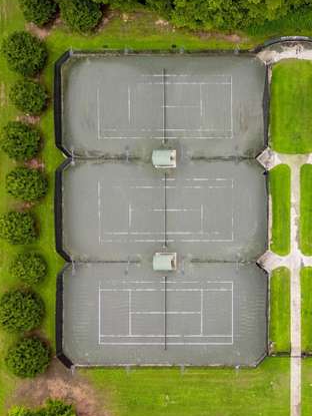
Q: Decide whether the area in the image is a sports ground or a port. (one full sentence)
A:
The area seen from above is a sports ground.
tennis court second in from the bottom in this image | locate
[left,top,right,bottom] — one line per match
[63,157,268,262]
